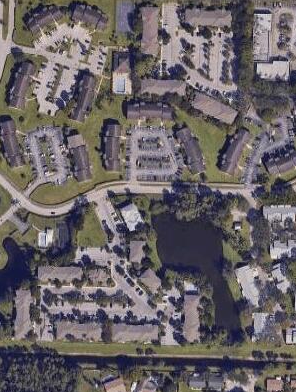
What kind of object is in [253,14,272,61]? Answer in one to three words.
building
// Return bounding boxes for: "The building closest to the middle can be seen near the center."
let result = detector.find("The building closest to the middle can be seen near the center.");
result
[122,205,143,231]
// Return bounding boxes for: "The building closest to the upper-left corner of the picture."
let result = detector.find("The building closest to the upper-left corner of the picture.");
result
[22,3,67,38]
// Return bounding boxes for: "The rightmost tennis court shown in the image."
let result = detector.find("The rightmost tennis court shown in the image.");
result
[115,0,134,32]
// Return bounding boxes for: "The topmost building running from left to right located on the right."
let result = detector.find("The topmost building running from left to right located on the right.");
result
[187,9,232,26]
